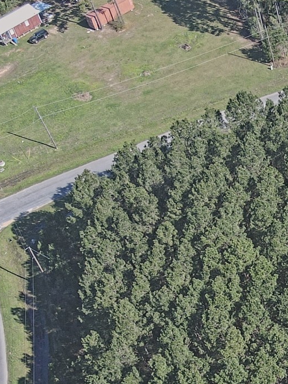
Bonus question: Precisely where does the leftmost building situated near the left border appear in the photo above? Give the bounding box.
[0,4,43,45]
